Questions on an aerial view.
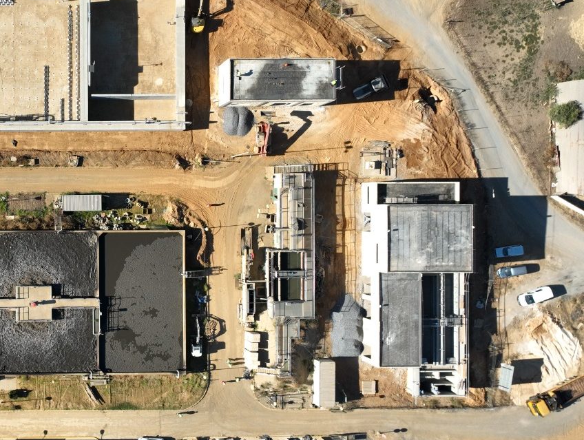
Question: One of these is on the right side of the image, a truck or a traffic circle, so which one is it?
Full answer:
What appears on the right side of the image is a truck.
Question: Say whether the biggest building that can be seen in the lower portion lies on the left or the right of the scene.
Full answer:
The biggest building that can be seen in the lower portion appears in the right half of the scene.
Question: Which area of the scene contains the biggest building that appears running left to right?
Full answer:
The biggest building that appears running left to right is in the top part of the image.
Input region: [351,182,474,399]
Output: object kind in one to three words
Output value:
building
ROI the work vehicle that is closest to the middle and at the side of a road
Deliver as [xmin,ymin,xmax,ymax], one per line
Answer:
[251,114,274,156]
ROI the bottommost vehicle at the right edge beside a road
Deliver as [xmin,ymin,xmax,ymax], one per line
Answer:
[515,366,584,417]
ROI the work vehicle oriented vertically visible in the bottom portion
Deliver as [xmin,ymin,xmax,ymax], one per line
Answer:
[188,320,202,356]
